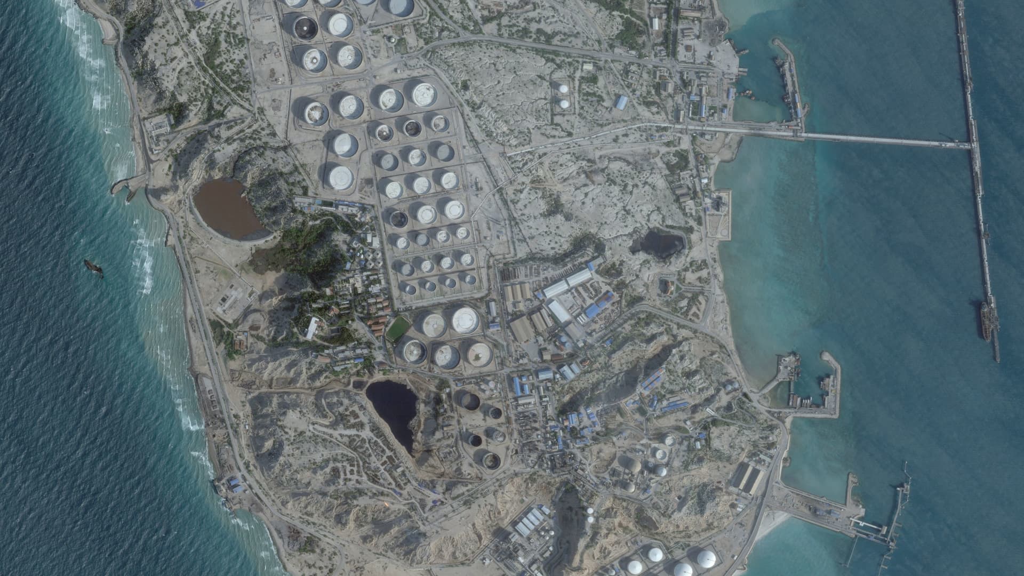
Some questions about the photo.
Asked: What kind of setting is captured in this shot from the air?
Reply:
port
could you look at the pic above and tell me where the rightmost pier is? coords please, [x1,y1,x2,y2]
[956,0,1001,362]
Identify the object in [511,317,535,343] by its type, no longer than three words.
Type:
building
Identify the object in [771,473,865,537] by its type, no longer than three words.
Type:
pier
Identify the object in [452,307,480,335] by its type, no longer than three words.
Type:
storage tank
